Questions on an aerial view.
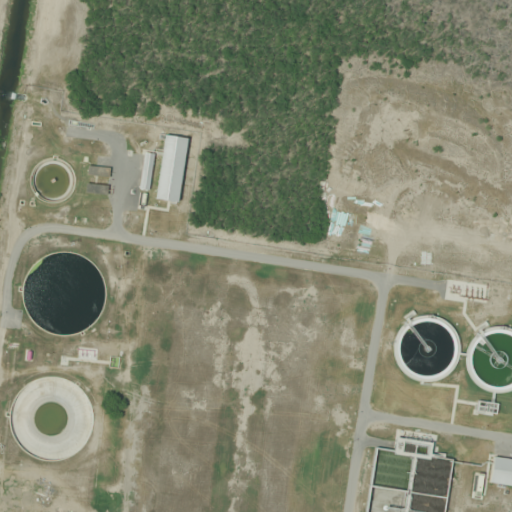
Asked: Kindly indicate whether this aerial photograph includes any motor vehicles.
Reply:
No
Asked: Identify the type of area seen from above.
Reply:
industrial area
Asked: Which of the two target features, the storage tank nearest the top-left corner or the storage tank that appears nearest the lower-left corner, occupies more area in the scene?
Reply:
the storage tank that appears nearest the lower-left corner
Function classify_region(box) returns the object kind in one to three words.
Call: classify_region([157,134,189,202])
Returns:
building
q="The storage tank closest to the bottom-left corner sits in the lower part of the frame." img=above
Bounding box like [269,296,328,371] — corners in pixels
[6,375,96,462]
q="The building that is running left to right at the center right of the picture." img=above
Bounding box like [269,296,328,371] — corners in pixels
[445,280,490,303]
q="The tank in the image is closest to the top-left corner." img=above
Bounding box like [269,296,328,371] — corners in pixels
[29,155,76,204]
